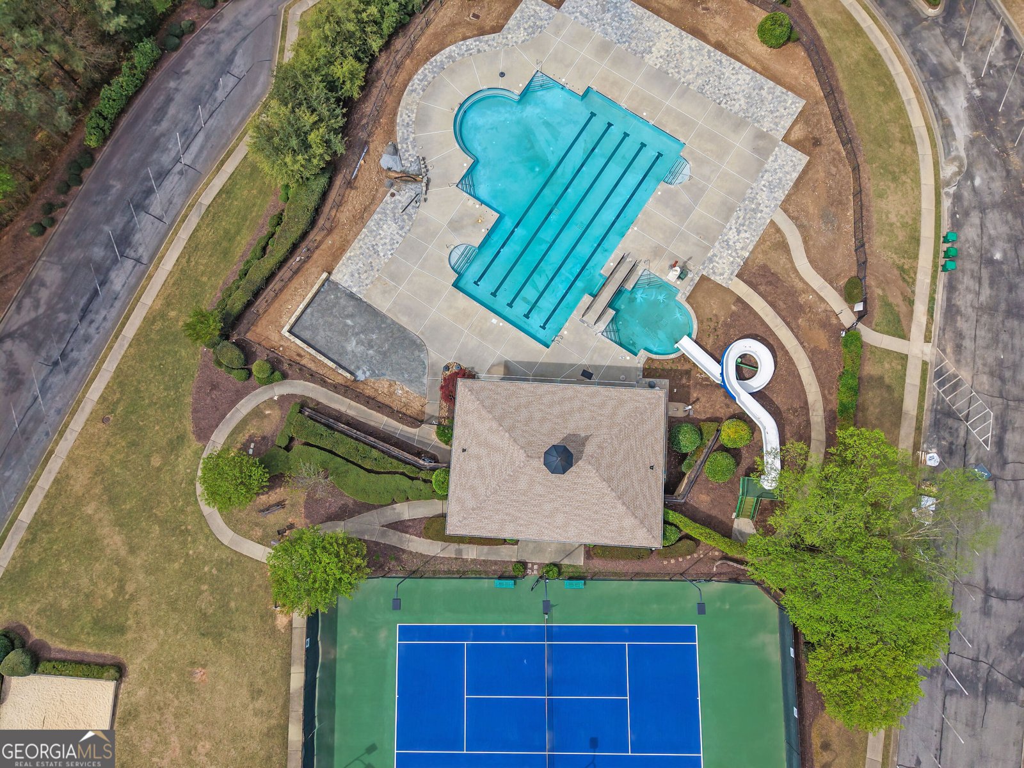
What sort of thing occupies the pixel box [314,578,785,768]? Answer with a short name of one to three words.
tennis court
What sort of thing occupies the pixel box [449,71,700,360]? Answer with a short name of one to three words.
swimming pool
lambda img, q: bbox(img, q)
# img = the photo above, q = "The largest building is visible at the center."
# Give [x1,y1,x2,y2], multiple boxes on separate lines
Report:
[445,377,668,550]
